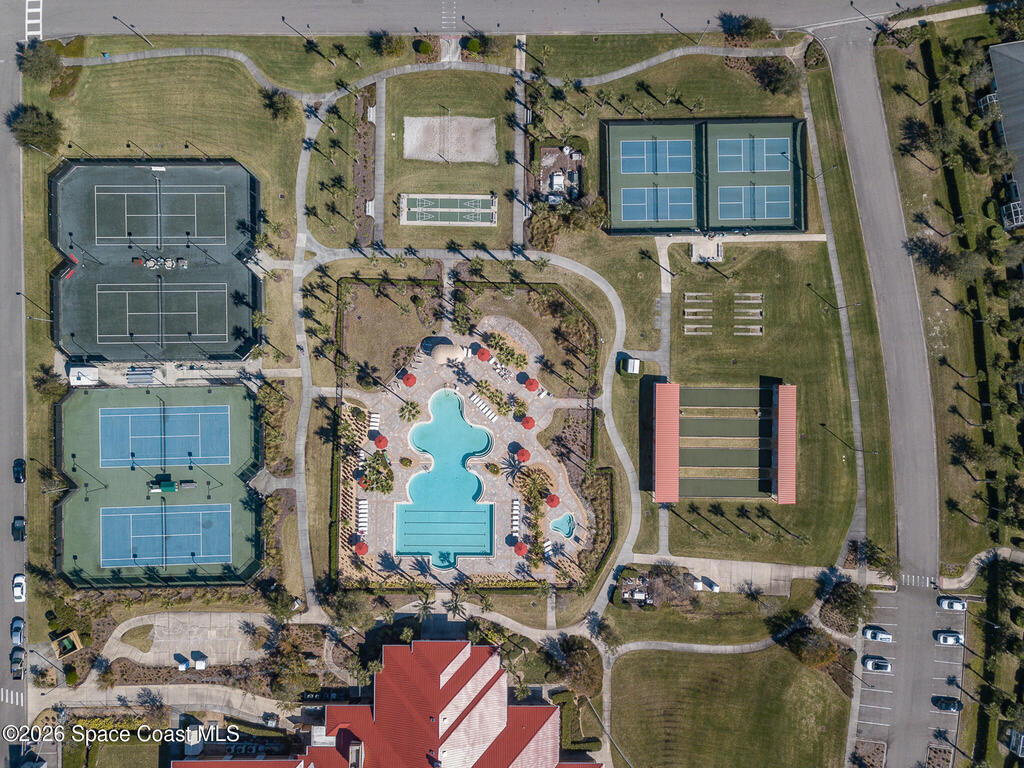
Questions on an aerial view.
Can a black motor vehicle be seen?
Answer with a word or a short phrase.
Yes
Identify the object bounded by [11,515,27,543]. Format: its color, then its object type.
black vehicle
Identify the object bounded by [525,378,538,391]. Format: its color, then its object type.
red umbrella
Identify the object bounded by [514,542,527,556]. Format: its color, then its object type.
red umbrella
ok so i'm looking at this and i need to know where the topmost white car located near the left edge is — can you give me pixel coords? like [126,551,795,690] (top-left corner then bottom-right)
[12,575,28,600]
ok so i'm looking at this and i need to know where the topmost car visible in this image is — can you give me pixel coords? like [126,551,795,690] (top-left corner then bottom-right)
[11,459,27,483]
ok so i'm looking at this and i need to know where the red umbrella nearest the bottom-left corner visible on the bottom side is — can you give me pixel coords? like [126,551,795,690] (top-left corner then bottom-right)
[355,541,368,554]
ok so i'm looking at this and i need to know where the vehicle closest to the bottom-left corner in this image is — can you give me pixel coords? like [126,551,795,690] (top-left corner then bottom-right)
[10,647,26,678]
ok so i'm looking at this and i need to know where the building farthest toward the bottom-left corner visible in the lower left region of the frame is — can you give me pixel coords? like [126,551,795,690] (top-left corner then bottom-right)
[51,628,88,658]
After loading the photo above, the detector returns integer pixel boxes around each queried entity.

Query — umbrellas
[357,476,370,489]
[514,542,527,556]
[525,378,538,391]
[403,373,417,386]
[521,416,535,429]
[477,348,491,361]
[375,436,388,448]
[546,493,560,507]
[355,541,368,554]
[517,449,530,462]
